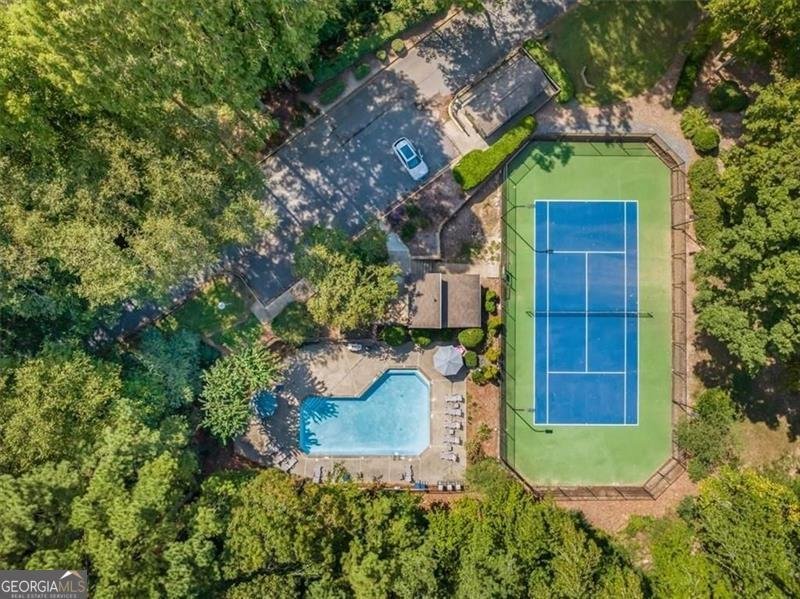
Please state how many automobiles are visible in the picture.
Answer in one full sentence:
The picture shows just 1 automobile.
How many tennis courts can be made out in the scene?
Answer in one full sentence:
I count just 1 tennis court.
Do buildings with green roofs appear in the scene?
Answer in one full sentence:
No, no building with a green roof is visible in the scene.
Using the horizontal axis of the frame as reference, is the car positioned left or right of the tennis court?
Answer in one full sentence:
The tennis court has the car on its left side.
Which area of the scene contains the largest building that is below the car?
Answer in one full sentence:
The largest building that is below the car sits in the center section of the image.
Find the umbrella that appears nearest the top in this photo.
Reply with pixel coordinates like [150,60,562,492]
[434,344,462,374]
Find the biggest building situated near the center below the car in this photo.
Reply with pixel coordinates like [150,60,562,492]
[412,274,482,329]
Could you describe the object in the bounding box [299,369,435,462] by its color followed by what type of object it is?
blue swimming pool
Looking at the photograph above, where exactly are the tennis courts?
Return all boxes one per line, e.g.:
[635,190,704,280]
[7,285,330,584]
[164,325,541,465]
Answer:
[502,141,671,487]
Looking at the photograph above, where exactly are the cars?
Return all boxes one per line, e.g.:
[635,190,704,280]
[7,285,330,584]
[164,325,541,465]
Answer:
[392,137,427,182]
